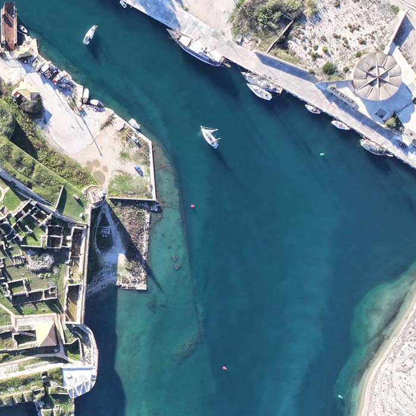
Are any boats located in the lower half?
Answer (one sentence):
No, there's no boat to be seen in the lower half.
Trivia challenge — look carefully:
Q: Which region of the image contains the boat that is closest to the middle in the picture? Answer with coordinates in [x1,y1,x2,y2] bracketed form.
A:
[200,126,220,151]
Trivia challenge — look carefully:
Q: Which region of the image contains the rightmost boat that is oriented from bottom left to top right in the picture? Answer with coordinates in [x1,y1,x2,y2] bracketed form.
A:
[83,25,97,45]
